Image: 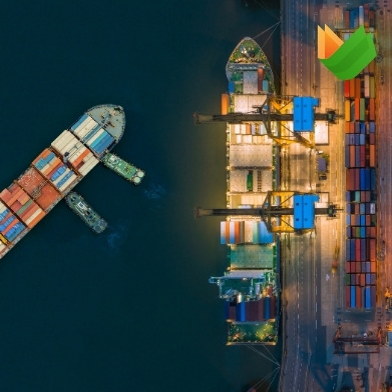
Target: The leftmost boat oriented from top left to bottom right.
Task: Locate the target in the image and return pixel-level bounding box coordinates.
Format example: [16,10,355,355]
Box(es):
[67,191,108,234]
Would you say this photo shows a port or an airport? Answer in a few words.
port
